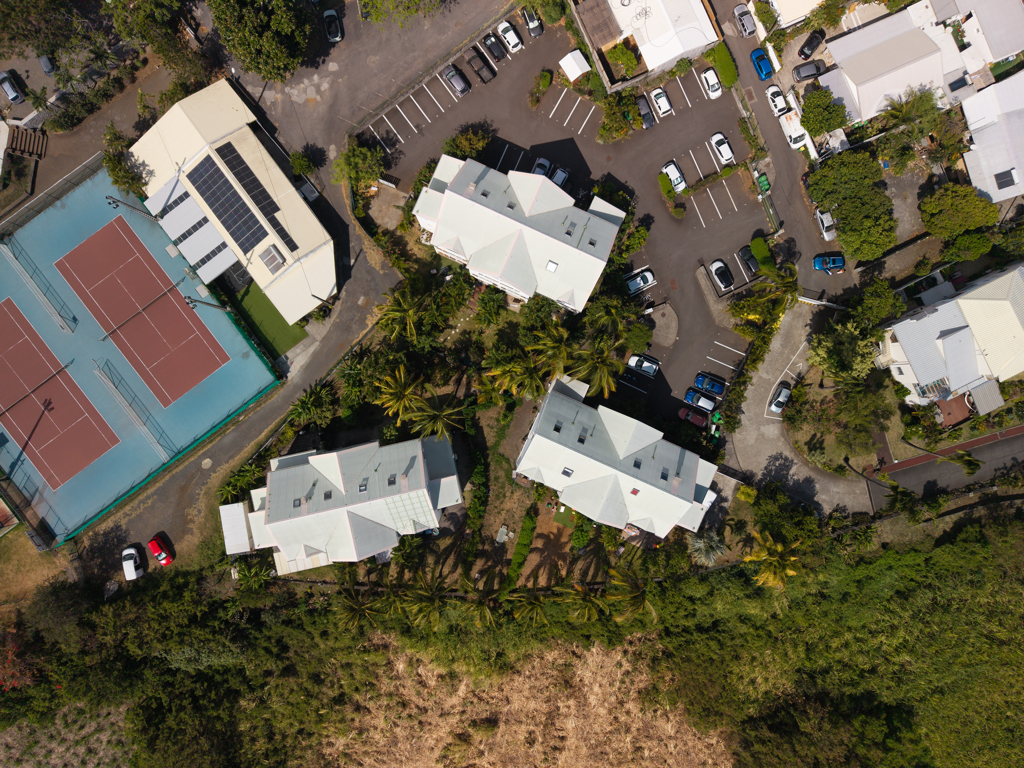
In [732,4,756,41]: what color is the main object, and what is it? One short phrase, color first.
gray car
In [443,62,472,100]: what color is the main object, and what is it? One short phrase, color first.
gray car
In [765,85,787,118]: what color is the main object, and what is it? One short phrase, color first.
white car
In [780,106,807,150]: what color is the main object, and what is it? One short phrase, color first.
white vehicle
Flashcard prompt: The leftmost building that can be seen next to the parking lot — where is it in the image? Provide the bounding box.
[130,78,340,325]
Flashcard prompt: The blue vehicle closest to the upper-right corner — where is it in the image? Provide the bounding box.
[749,49,772,82]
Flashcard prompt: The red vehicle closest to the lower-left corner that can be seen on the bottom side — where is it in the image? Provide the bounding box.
[150,534,175,566]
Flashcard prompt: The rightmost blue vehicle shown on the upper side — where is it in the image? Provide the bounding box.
[811,255,845,278]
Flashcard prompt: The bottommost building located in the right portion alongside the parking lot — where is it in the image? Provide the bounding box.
[516,374,718,539]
